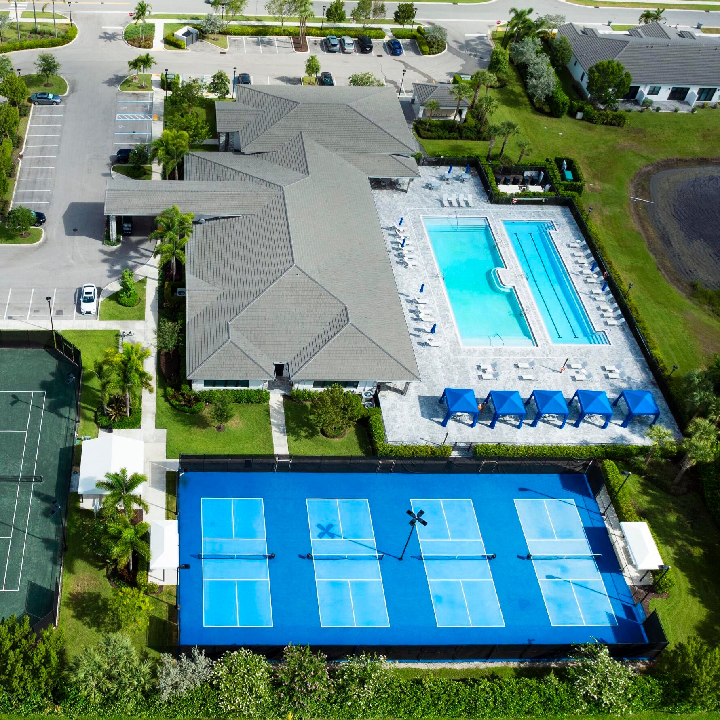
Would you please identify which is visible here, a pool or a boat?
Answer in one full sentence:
I can see a pool in this picture.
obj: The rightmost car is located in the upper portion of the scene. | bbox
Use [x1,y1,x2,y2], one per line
[387,39,405,56]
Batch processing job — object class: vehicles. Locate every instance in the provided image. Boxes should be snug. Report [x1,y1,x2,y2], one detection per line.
[15,211,51,226]
[238,71,252,84]
[340,38,356,53]
[320,71,336,85]
[31,91,63,104]
[120,217,136,240]
[79,284,97,315]
[387,39,405,56]
[112,147,144,162]
[358,37,375,53]
[324,36,341,52]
